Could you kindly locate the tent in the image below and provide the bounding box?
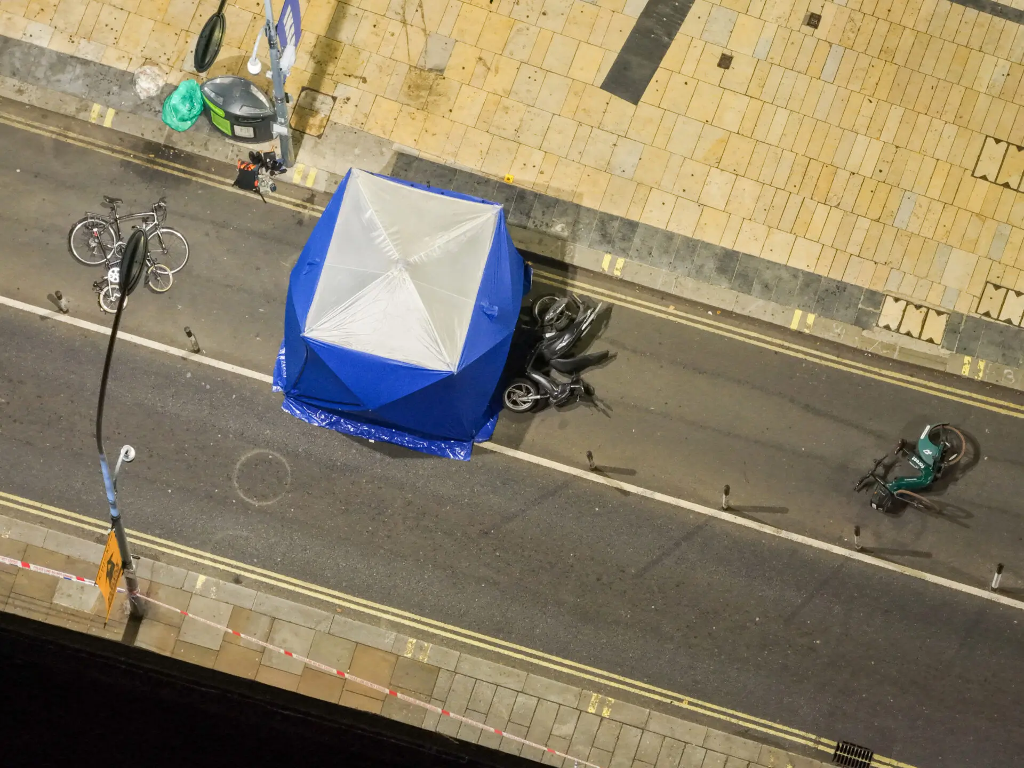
[272,168,533,460]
